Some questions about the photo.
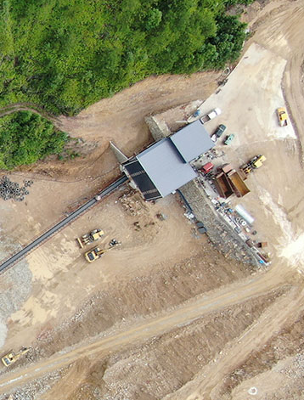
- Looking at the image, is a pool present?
No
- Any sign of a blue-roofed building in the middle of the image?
No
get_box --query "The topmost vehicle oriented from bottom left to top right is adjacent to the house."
[201,107,222,124]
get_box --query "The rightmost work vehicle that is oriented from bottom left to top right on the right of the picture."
[237,154,271,177]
